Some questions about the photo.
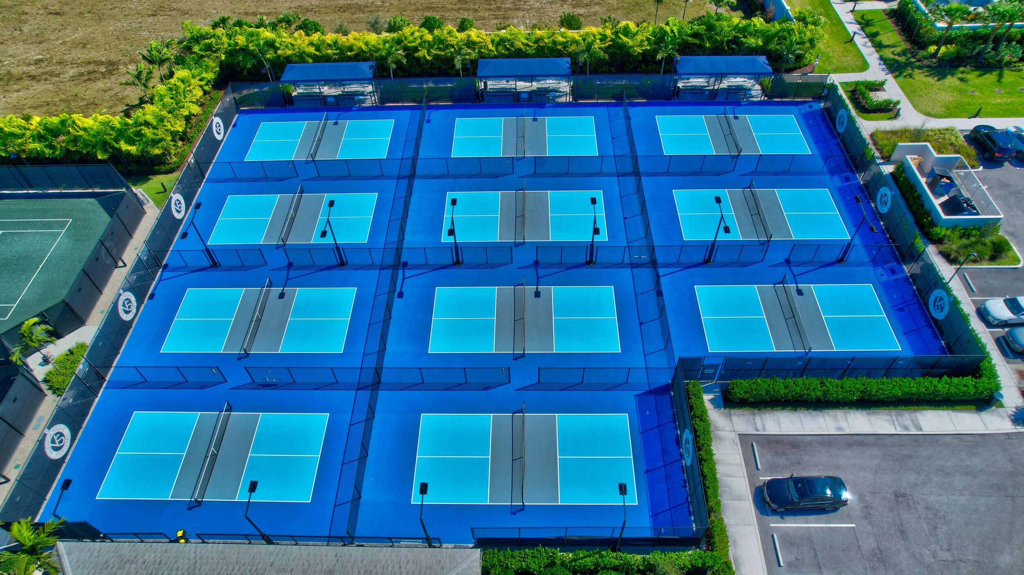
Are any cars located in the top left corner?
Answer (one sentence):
No, no car is visible in the top left corner.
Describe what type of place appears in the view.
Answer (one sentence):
This image shows a sports ground.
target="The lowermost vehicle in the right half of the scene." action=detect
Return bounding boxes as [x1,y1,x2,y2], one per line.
[761,472,852,513]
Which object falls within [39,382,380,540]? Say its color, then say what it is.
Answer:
blue sports court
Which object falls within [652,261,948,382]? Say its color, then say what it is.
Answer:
blue sports court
